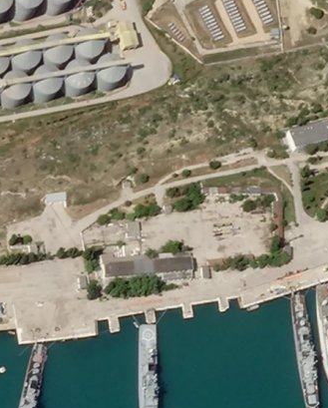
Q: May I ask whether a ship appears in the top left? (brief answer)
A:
No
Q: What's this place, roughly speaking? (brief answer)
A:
industrial area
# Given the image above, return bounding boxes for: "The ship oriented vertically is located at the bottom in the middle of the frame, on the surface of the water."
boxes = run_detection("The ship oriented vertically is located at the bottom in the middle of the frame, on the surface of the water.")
[133,310,166,408]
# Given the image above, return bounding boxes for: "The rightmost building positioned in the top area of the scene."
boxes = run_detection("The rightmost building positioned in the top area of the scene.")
[288,119,328,151]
